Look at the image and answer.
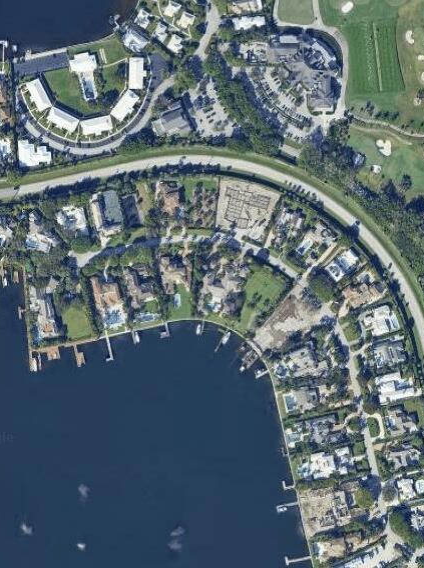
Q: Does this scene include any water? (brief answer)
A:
Yes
